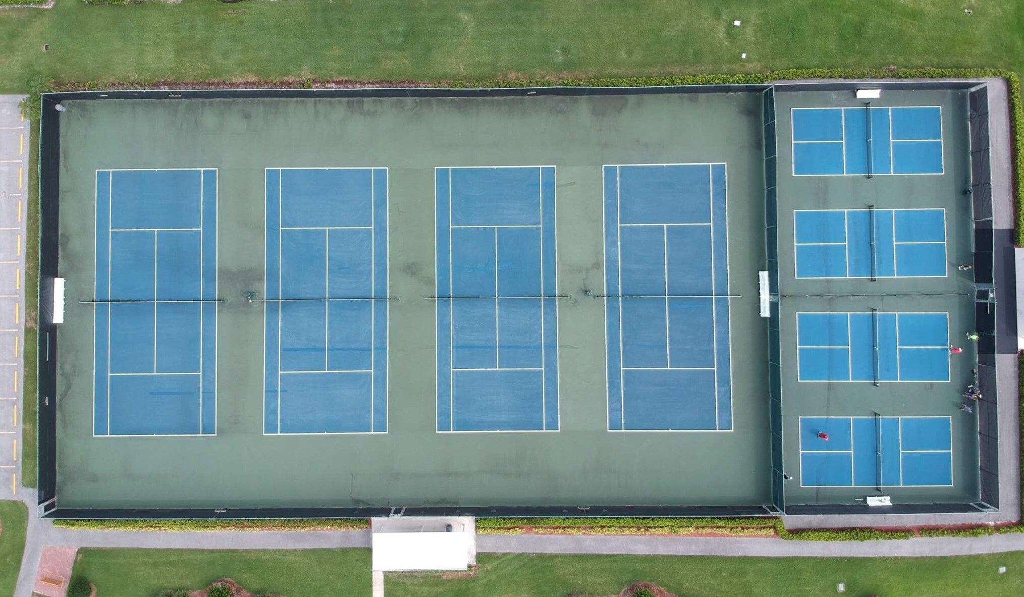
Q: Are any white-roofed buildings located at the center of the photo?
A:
No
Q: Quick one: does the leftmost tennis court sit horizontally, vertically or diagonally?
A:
vertically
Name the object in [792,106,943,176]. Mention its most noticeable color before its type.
blue sports court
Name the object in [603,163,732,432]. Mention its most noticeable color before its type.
blue tennis court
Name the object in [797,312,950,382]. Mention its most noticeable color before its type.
blue sports court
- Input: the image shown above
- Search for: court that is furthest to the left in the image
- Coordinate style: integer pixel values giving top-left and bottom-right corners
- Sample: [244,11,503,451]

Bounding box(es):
[93,169,217,436]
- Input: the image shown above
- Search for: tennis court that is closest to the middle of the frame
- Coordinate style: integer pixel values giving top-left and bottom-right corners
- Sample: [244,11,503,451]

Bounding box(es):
[434,165,560,433]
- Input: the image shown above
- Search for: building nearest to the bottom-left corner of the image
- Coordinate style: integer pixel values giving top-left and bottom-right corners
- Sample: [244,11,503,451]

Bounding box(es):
[373,524,468,572]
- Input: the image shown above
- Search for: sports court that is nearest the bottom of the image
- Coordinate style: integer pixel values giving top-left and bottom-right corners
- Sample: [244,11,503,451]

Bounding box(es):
[799,416,953,487]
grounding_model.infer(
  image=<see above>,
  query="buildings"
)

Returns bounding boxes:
[373,524,468,572]
[1003,240,1024,373]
